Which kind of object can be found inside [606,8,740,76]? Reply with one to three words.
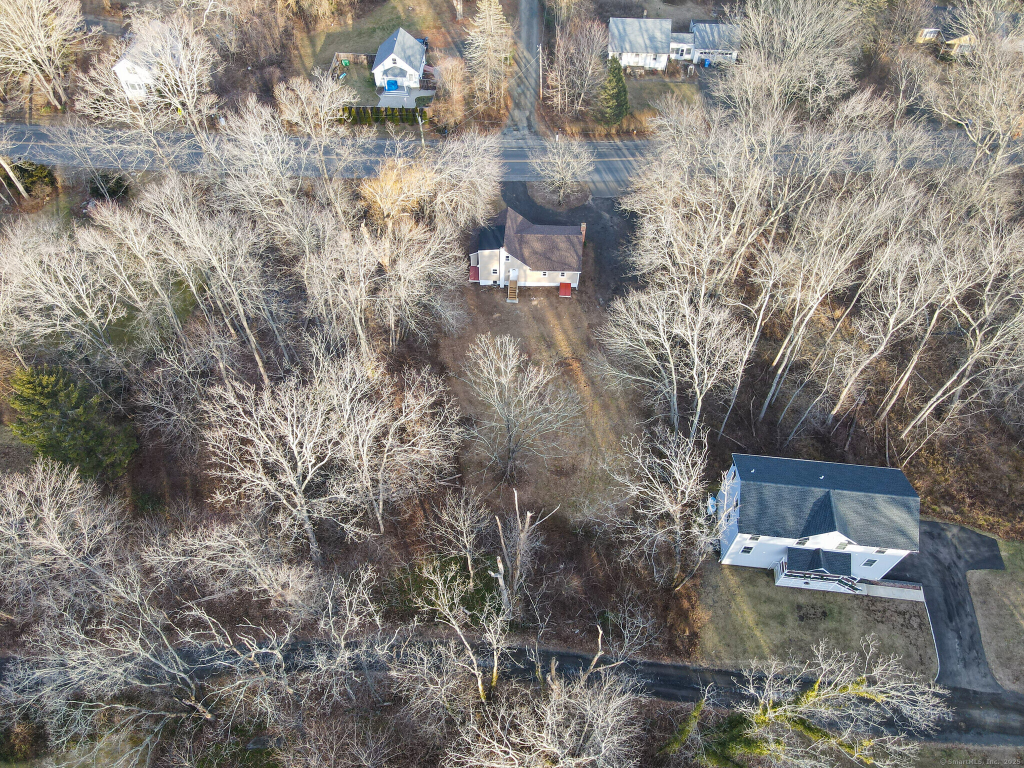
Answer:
house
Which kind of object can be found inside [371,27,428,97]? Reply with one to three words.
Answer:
house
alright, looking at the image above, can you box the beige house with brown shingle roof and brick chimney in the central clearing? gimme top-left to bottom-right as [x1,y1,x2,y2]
[468,204,586,303]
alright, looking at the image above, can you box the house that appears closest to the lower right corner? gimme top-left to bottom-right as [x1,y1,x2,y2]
[716,454,921,594]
